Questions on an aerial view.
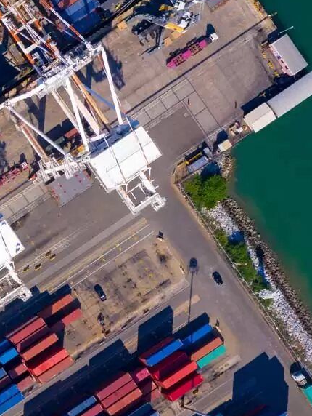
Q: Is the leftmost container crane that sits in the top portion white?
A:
Yes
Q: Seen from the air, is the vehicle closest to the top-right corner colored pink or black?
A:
pink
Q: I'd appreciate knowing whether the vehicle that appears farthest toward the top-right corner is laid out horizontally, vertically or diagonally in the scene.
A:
diagonally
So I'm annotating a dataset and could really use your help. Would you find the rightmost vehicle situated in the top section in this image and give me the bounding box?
[168,34,214,69]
